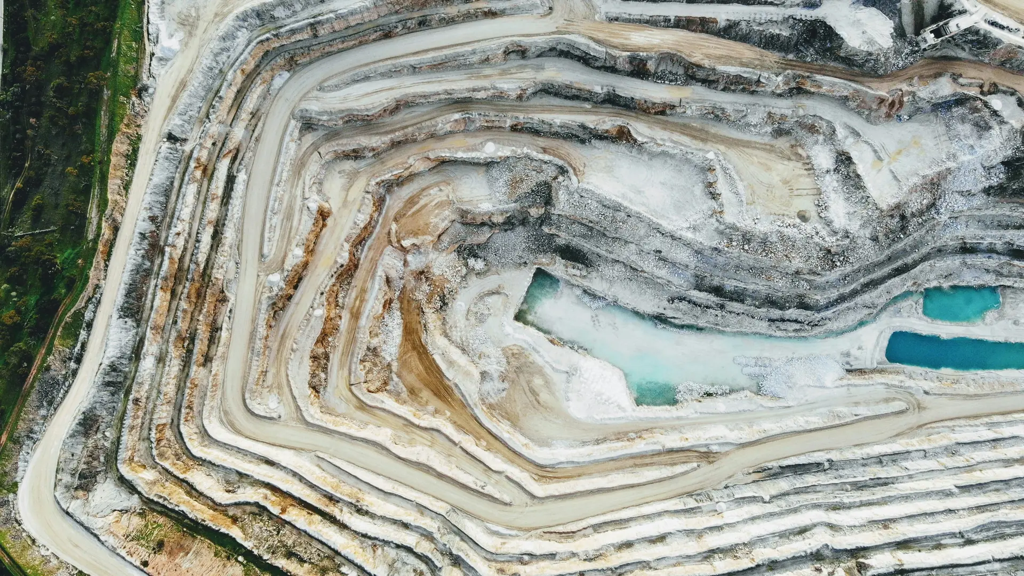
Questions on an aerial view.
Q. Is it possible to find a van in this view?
No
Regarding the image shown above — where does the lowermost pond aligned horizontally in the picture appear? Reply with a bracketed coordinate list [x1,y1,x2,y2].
[885,330,1024,373]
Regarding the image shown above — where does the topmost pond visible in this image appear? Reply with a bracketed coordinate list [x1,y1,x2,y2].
[921,282,1003,323]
